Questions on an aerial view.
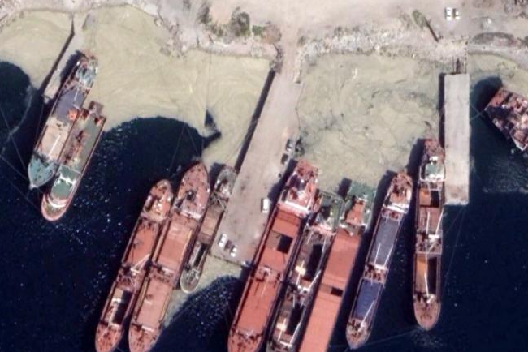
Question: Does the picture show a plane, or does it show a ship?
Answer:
ship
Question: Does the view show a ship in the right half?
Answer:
Yes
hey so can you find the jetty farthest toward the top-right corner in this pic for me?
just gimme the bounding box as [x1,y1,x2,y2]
[444,74,469,206]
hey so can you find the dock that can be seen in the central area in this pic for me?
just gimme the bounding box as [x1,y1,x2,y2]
[216,42,304,268]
